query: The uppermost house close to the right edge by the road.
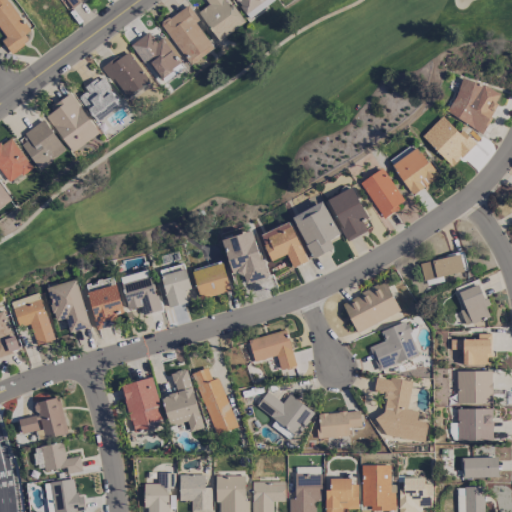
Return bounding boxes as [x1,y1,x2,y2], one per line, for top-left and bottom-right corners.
[450,77,504,133]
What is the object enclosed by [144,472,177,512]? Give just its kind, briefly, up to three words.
house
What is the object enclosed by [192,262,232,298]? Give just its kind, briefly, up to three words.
house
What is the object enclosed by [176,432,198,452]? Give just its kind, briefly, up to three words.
swimming pool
